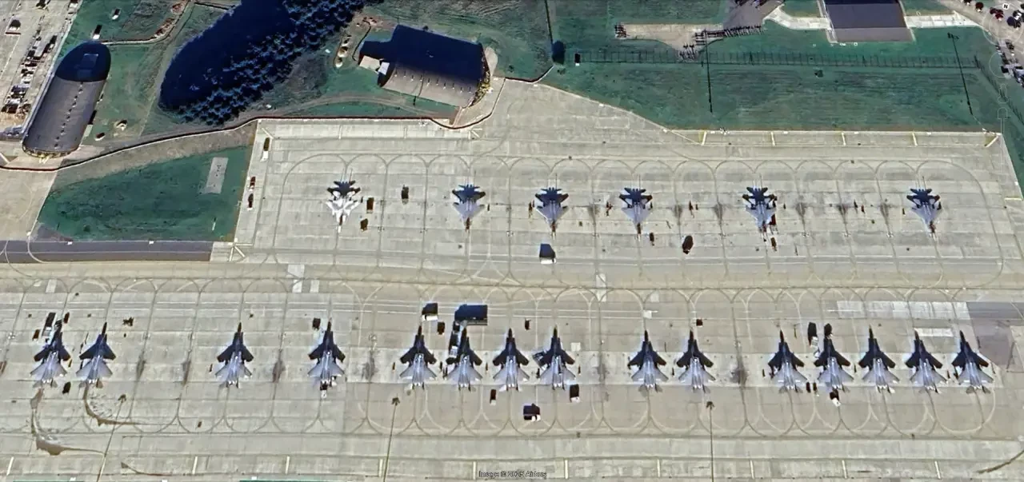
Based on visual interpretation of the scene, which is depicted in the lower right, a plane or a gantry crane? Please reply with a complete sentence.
There is a plane in the lower right.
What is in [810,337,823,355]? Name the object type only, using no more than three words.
vehicle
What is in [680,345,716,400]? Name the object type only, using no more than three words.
airplane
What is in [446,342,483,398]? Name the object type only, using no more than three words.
airplane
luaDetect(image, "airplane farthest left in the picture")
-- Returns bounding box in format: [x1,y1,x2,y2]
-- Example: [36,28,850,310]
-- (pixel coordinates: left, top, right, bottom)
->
[29,336,66,393]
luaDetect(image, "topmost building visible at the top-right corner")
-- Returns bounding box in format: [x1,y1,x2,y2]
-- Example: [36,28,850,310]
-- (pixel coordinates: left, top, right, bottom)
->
[829,0,914,43]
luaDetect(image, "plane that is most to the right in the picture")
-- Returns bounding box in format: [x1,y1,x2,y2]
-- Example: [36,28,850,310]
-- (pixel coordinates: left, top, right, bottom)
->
[958,346,994,402]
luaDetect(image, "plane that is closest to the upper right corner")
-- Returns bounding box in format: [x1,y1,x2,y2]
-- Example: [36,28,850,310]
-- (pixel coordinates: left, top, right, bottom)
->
[910,190,944,242]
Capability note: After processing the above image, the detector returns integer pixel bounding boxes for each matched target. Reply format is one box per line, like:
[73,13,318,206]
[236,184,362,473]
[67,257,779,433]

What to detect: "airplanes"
[308,340,344,395]
[680,345,716,400]
[539,344,576,399]
[863,345,900,401]
[771,345,807,401]
[452,188,485,237]
[818,343,855,400]
[632,344,669,400]
[75,337,112,393]
[910,190,944,242]
[493,343,529,399]
[911,346,947,402]
[327,183,360,234]
[29,336,66,393]
[620,192,654,241]
[446,342,483,398]
[400,341,436,397]
[535,188,569,239]
[744,191,777,240]
[215,340,251,395]
[958,346,994,402]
